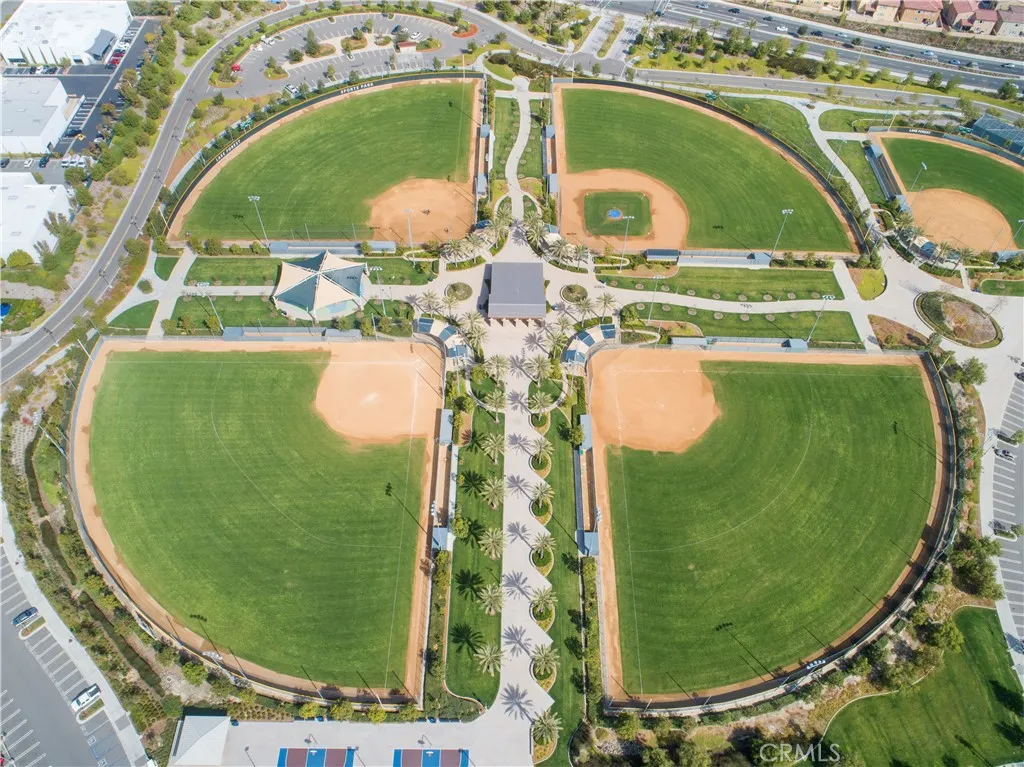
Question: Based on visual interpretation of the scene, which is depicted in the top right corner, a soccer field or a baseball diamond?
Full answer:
Looking in the top right corner, you will find a baseball diamond.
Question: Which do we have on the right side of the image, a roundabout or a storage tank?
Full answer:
The feature located on the right side of the image is a roundabout.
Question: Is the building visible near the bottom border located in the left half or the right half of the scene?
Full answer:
It is on the left.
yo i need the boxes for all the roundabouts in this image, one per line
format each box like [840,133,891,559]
[915,289,1004,347]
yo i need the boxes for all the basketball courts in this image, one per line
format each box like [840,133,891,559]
[276,748,355,767]
[392,748,469,767]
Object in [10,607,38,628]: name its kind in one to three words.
car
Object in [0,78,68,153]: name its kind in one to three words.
building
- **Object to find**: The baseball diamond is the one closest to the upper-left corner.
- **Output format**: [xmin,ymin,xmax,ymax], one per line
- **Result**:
[168,76,482,244]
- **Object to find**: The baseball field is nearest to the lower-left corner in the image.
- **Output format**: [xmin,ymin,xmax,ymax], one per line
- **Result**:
[74,338,443,708]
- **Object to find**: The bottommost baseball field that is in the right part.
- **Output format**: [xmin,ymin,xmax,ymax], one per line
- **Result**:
[587,347,952,715]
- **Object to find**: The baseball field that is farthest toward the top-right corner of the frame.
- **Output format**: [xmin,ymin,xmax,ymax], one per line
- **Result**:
[871,131,1024,253]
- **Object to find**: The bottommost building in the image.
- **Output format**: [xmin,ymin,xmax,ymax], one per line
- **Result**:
[171,716,231,767]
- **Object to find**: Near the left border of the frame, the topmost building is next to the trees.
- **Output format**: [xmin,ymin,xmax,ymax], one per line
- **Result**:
[0,1,136,64]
